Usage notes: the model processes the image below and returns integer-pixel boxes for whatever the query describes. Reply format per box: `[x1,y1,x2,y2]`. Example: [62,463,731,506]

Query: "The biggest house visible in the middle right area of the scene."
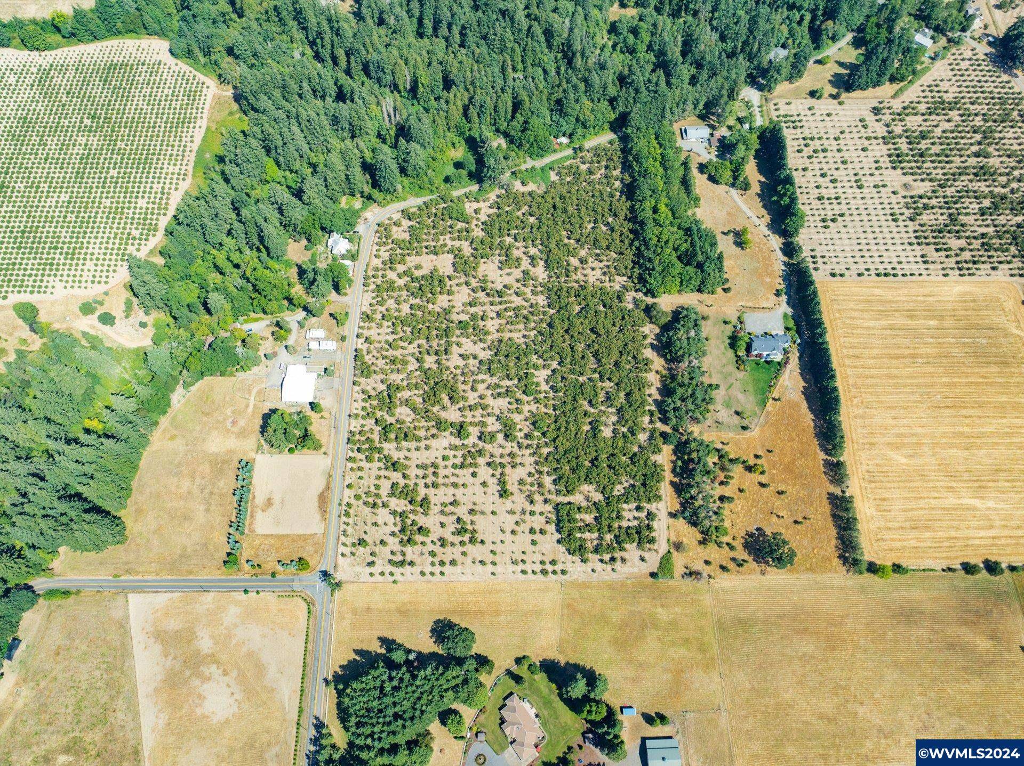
[748,333,793,363]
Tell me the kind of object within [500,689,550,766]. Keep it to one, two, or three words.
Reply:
house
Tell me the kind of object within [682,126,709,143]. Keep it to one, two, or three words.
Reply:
house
